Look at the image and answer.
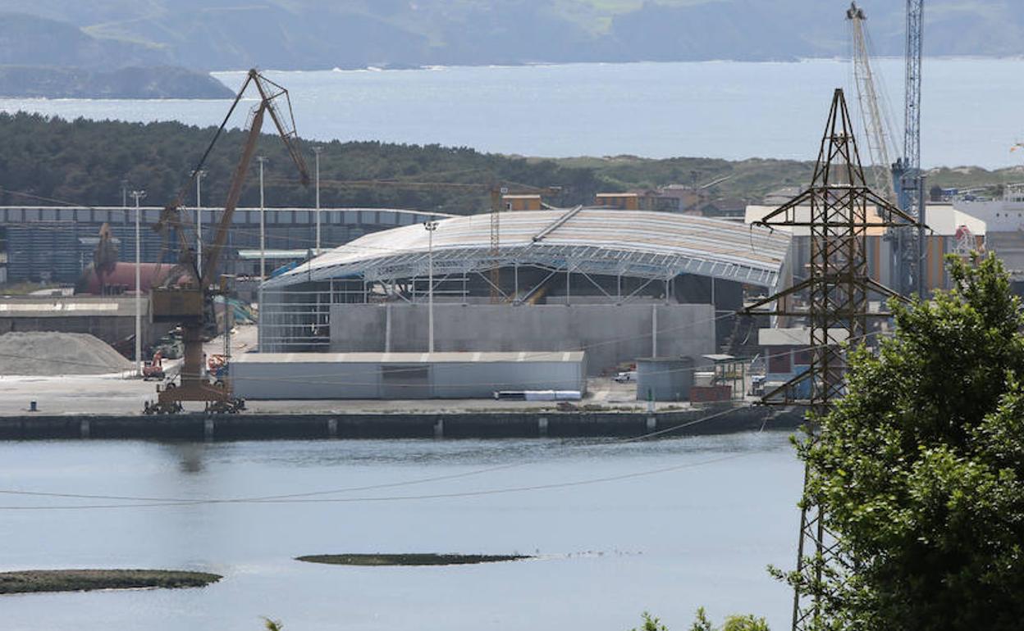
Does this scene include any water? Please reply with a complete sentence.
Yes, water can be seen from above here.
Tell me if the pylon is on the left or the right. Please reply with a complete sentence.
You can find the pylon on the right side of the picture.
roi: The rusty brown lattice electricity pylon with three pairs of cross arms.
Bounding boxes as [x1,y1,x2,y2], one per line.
[721,87,949,631]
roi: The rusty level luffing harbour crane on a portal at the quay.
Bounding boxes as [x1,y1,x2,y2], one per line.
[142,69,312,412]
